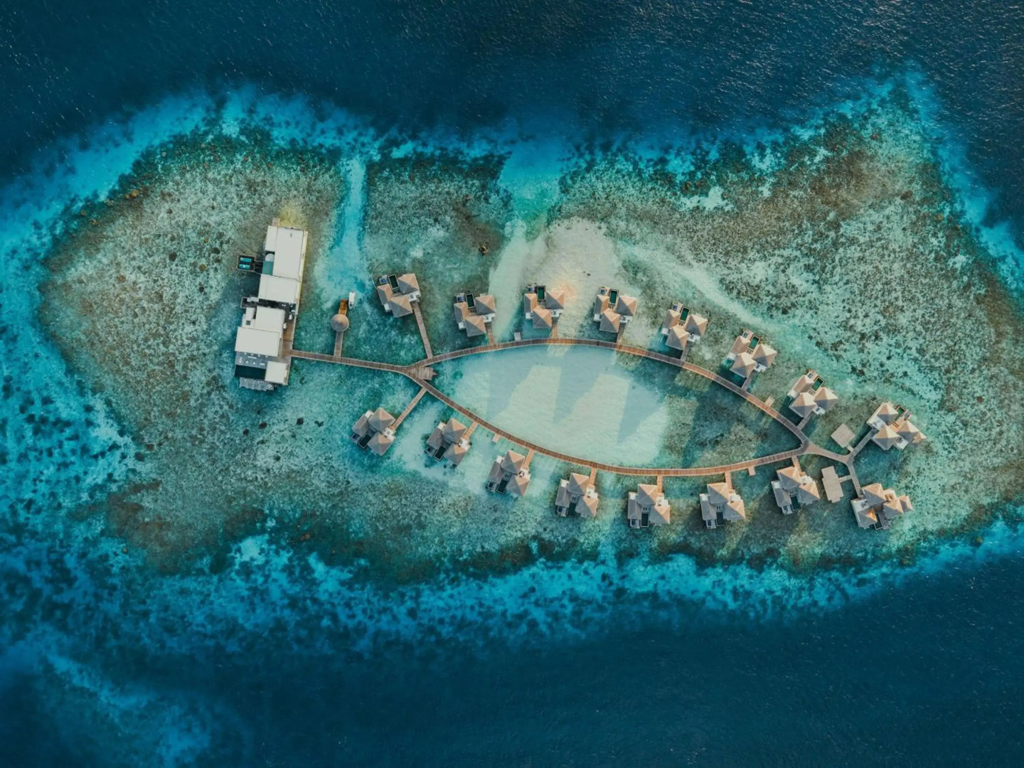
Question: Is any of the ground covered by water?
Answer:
Yes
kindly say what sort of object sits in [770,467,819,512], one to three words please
house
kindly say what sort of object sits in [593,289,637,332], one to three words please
house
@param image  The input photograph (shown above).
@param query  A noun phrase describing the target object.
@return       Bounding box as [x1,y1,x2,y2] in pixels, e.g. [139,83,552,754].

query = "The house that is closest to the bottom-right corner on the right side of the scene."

[850,483,913,529]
